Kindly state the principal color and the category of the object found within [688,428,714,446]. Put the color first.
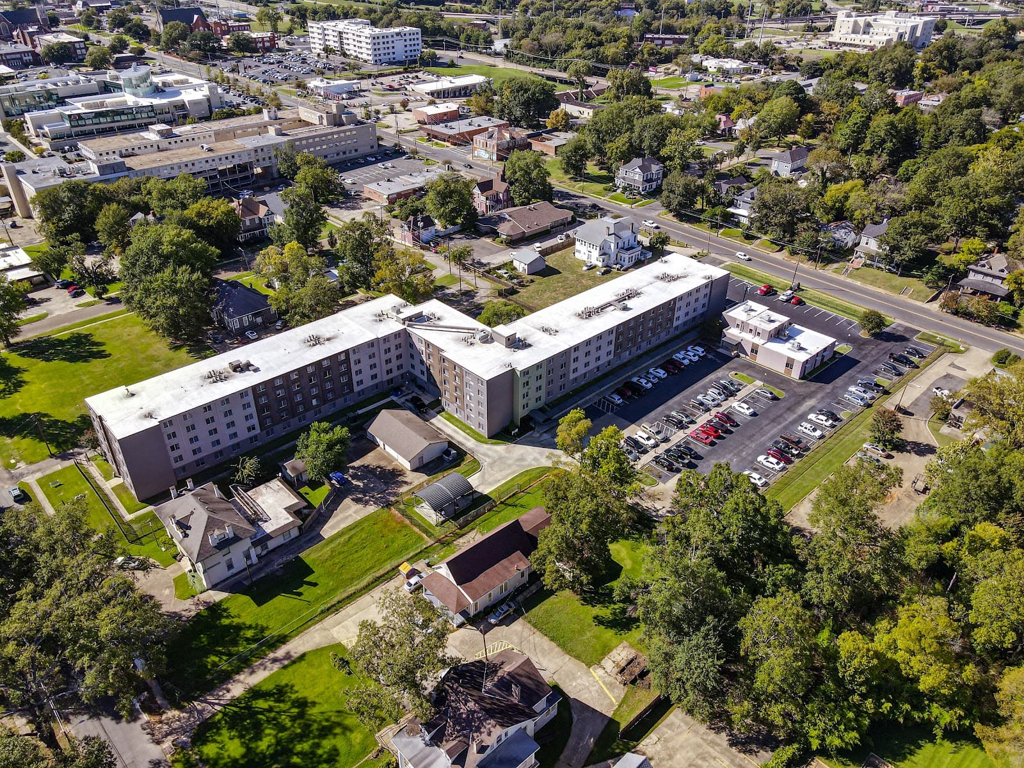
red car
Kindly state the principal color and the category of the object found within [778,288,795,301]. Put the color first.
white vehicle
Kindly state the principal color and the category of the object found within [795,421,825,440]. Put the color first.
white vehicle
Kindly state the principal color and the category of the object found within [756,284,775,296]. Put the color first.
red vehicle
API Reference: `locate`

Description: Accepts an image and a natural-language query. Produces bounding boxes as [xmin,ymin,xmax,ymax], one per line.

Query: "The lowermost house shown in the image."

[401,652,571,768]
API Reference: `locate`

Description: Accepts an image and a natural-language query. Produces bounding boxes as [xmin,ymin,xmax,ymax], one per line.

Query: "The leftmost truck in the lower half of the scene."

[6,482,28,505]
